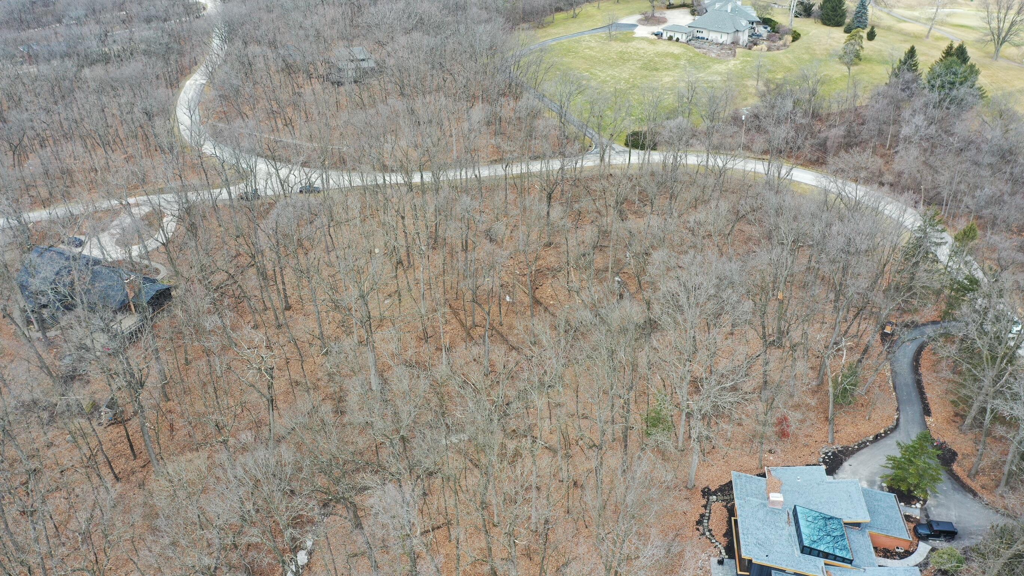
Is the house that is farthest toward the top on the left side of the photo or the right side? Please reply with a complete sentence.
It is on the right.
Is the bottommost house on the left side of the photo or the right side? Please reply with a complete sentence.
You can find the bottommost house on the right side of the picture.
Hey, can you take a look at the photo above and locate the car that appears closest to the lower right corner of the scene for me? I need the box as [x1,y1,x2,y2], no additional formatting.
[912,518,961,542]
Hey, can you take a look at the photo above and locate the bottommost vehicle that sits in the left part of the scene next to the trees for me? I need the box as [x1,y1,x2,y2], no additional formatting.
[60,232,87,245]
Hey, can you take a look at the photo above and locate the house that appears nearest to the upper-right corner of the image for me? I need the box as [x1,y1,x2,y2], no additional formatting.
[663,0,781,44]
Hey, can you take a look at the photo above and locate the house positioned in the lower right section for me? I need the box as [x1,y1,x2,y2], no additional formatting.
[728,466,921,576]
